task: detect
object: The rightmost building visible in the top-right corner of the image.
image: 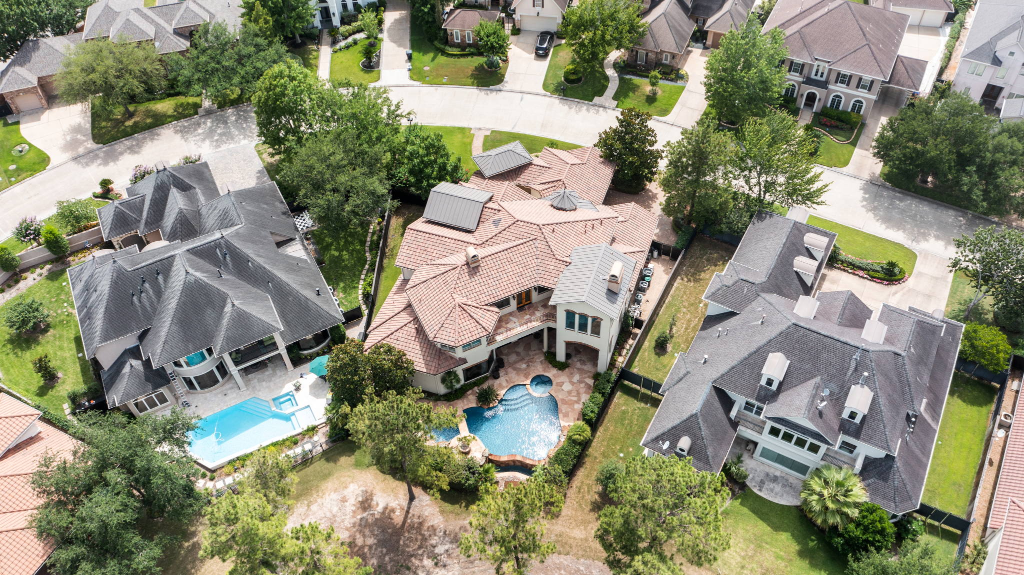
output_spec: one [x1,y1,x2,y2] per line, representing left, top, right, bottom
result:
[953,0,1024,137]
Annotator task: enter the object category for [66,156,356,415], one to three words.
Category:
house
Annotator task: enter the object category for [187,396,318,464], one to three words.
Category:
swimming pool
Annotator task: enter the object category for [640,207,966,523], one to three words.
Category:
house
